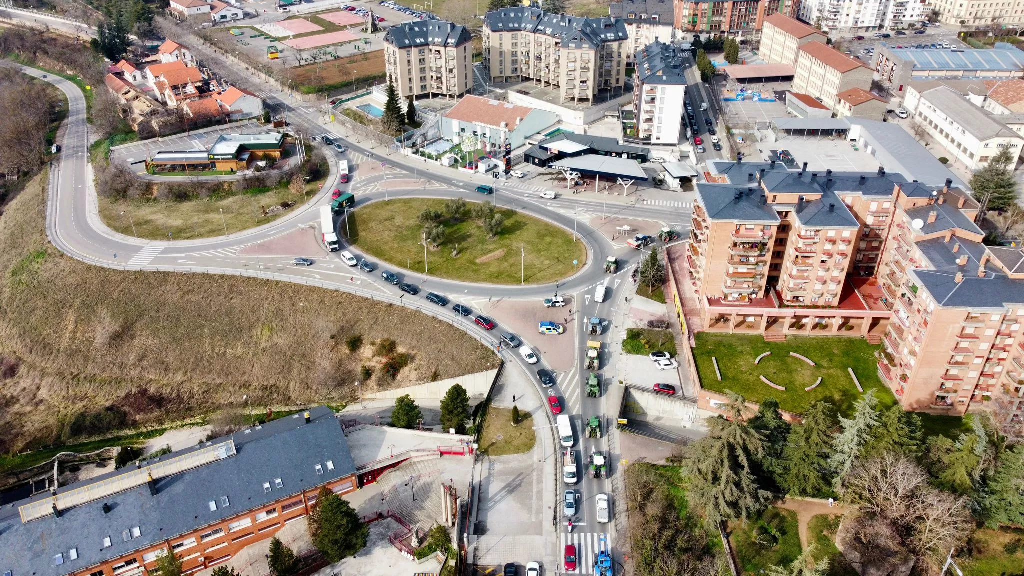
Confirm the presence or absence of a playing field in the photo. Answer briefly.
Yes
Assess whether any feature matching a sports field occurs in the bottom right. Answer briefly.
No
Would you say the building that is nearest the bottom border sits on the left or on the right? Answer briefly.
left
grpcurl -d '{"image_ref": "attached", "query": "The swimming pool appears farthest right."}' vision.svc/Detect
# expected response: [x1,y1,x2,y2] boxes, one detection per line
[357,103,383,117]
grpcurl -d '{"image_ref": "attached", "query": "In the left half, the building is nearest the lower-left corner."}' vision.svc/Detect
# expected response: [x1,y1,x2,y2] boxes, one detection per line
[0,406,357,576]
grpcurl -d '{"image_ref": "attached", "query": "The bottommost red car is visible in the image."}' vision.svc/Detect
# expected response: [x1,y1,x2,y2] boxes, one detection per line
[562,541,578,570]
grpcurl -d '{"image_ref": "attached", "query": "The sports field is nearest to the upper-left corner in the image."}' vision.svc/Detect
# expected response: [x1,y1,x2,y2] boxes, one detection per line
[191,7,389,78]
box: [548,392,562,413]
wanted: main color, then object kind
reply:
red car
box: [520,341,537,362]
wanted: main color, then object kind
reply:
white vehicle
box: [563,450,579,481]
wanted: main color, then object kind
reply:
white vehicle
